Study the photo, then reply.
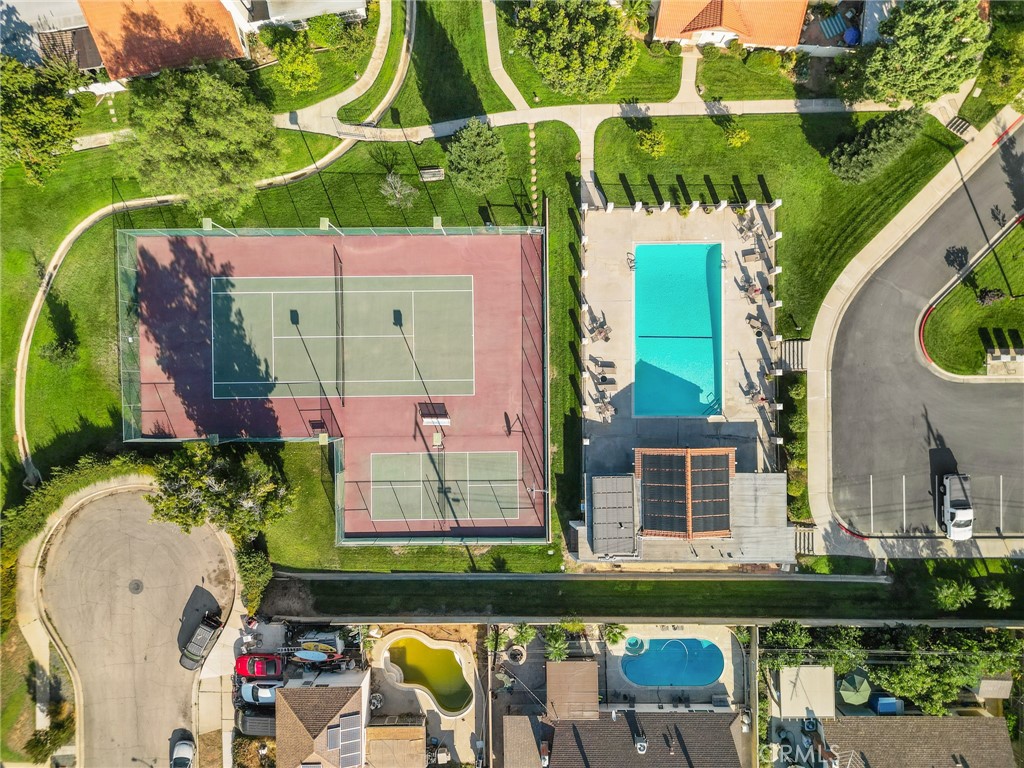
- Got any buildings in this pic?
Yes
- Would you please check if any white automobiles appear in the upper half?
No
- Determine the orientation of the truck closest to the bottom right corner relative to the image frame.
vertically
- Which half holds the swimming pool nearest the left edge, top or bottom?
bottom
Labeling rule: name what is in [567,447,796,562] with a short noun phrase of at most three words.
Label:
building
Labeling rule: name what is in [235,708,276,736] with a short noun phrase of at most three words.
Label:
car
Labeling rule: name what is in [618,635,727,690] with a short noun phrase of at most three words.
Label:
swimming pool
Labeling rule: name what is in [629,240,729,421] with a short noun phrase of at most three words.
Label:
swimming pool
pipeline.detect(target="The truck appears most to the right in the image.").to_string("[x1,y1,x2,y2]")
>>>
[940,475,973,538]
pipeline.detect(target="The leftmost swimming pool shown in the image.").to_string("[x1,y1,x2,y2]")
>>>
[383,633,476,715]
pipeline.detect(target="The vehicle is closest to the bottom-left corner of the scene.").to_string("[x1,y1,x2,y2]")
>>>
[169,736,196,768]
